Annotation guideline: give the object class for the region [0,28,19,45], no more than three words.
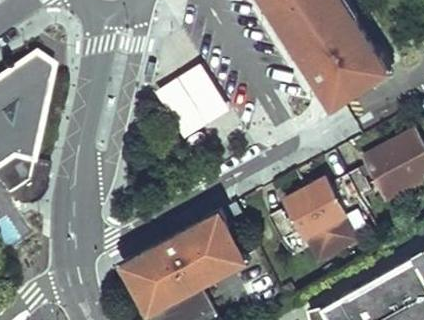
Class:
car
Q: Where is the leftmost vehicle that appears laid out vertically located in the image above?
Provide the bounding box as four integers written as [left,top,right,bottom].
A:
[144,56,156,82]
